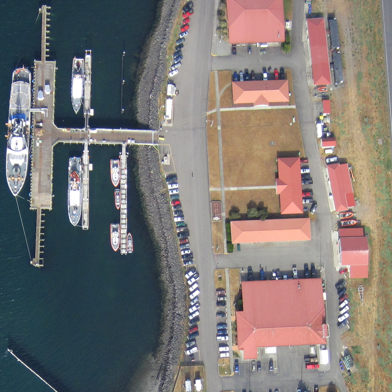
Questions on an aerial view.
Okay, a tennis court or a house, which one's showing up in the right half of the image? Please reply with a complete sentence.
What appears in the right half of the image is a house.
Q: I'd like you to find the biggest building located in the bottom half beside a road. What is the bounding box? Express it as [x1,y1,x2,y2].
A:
[235,278,330,359]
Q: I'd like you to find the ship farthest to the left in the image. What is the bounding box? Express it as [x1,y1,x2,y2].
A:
[5,64,30,196]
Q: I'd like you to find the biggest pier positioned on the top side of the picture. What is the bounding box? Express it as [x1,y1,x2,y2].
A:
[29,6,159,267]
